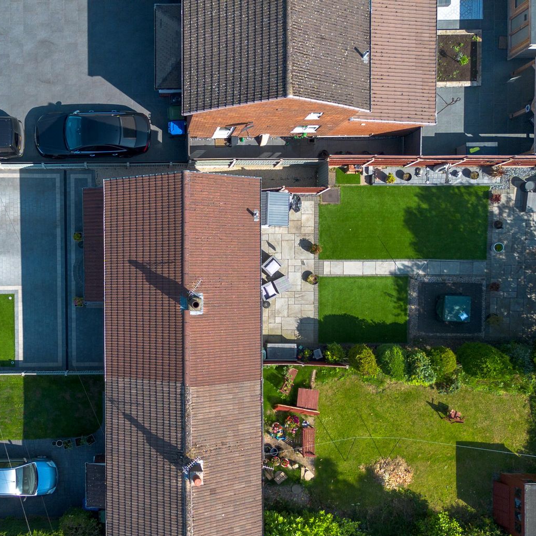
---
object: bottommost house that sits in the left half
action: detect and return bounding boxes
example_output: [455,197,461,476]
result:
[83,378,263,536]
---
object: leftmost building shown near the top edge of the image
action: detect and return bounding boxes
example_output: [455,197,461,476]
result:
[153,0,438,139]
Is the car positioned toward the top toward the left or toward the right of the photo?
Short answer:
left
